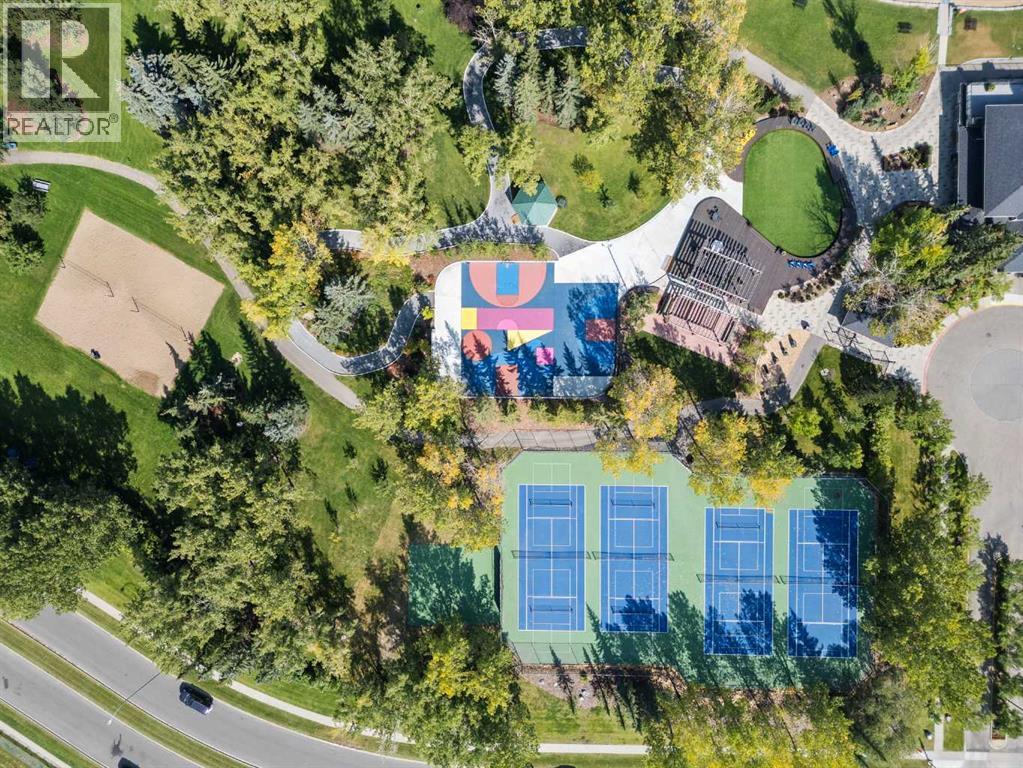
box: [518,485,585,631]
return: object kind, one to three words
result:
tennis court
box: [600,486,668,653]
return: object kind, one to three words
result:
tennis court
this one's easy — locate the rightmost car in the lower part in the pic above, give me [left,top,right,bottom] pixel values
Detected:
[180,690,213,715]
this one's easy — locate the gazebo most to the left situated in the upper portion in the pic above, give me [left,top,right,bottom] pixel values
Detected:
[512,181,560,224]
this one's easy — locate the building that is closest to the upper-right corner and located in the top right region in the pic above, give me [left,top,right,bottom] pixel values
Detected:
[949,76,1023,224]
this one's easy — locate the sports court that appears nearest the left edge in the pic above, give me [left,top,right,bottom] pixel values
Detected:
[35,208,225,398]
